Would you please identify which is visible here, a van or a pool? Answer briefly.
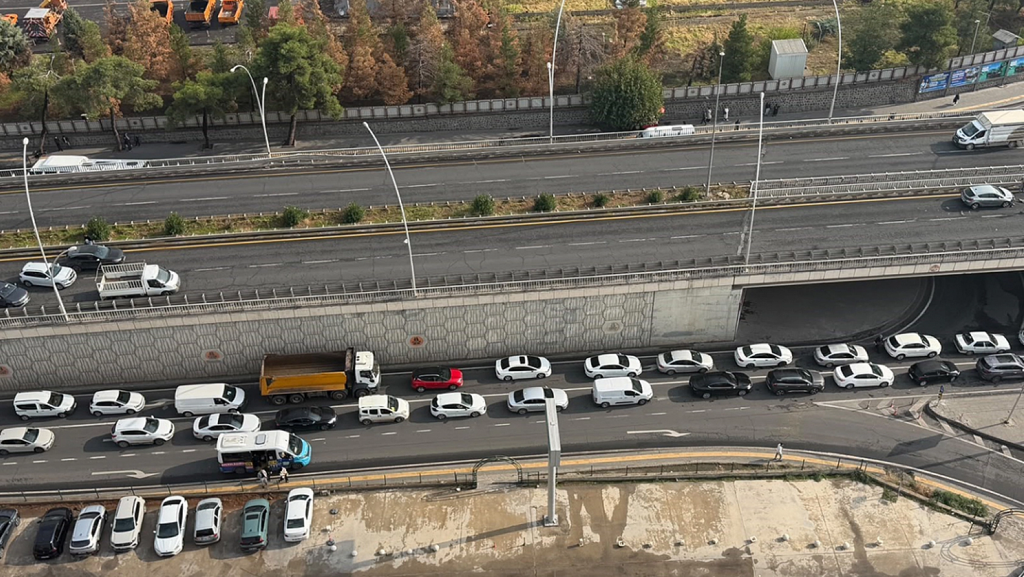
van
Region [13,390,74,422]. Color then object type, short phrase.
white van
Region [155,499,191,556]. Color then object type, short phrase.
white car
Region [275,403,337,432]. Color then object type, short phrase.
black car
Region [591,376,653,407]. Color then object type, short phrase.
white van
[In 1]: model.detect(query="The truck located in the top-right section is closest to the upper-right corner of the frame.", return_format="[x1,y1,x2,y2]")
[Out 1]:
[956,106,1024,151]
